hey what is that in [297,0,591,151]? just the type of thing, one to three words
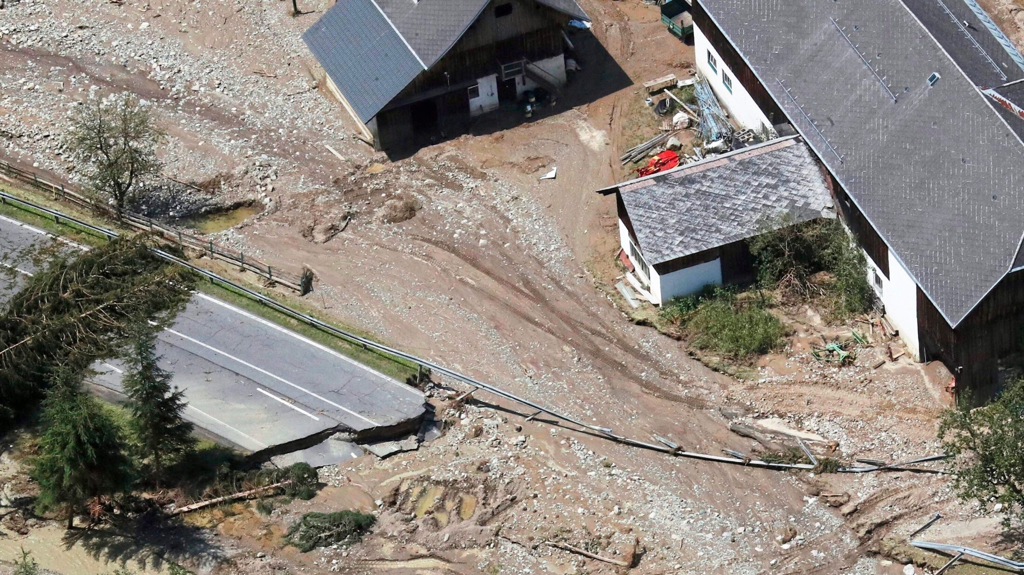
barn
